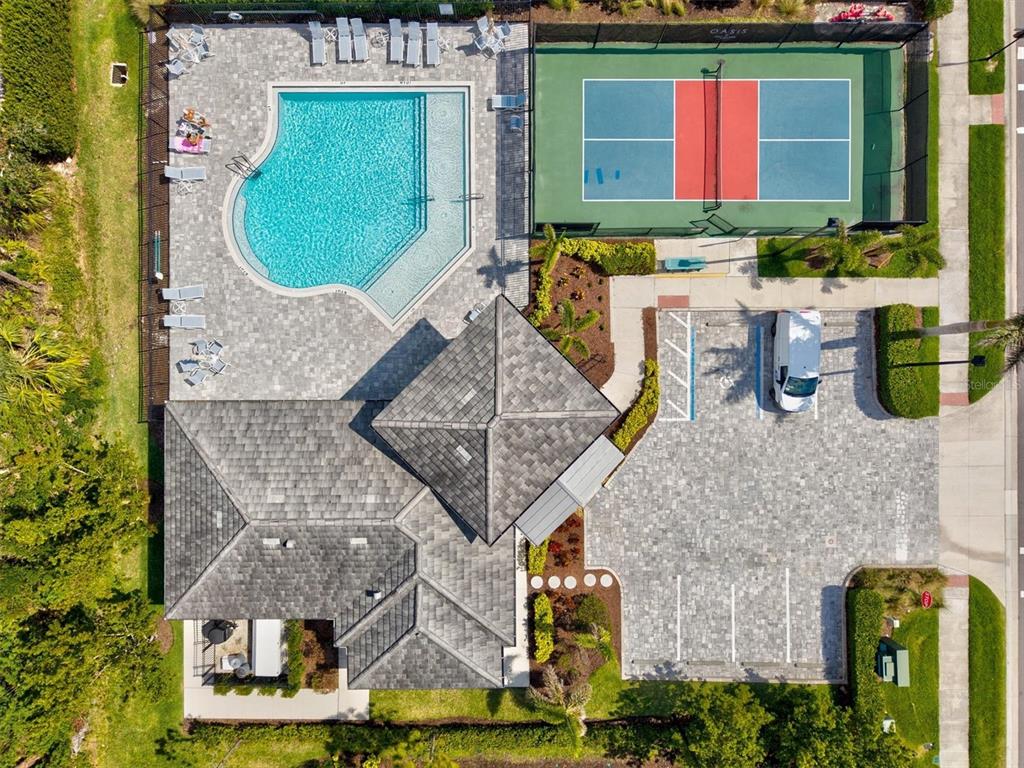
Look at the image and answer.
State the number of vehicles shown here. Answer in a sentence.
Just 1 vehicle appears in this view.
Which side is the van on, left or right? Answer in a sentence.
It is on the right.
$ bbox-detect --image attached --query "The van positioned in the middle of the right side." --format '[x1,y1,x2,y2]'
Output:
[771,307,826,412]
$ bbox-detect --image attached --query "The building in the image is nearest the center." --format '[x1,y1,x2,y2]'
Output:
[367,291,622,546]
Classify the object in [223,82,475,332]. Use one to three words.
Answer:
swimming pool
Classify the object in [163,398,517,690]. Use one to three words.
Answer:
building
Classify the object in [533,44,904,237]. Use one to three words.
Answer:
sports court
